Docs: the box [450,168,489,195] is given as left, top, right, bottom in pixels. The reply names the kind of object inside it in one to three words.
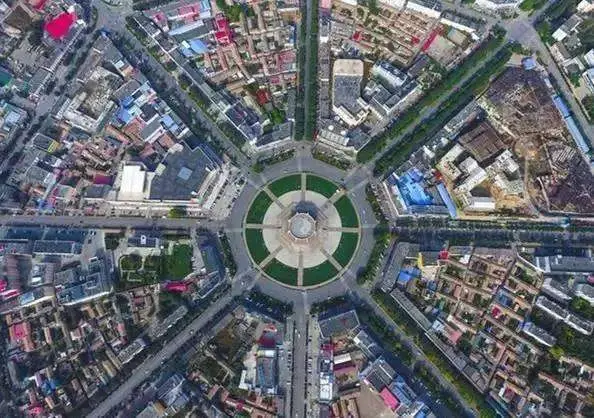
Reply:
building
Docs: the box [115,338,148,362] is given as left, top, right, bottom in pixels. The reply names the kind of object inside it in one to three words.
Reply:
building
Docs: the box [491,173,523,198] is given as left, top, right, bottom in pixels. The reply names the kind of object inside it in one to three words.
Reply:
house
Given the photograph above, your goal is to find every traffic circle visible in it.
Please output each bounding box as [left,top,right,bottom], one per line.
[243,171,361,289]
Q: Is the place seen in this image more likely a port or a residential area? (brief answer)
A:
residential area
